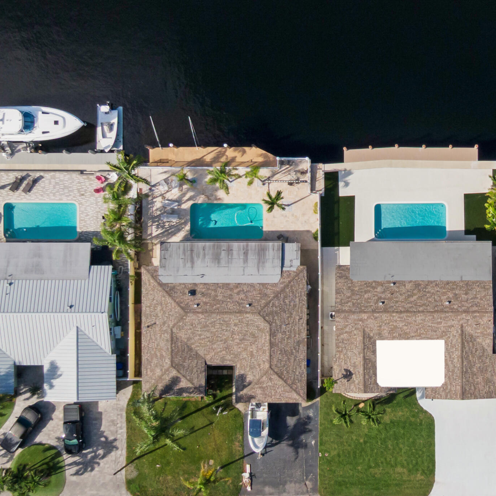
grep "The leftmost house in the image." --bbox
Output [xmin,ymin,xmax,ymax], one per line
[0,243,120,402]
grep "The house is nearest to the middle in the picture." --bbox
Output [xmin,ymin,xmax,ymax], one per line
[141,242,307,404]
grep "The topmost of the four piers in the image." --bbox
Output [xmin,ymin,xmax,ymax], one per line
[97,108,123,150]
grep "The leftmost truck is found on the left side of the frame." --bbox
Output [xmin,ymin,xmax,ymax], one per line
[0,402,42,455]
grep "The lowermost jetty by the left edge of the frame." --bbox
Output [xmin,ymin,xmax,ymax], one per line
[0,149,123,164]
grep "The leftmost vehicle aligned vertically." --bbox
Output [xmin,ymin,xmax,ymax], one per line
[61,403,85,455]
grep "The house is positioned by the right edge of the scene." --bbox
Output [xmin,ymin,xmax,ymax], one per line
[332,241,496,400]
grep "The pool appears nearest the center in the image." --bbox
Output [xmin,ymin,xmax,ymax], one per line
[189,203,264,240]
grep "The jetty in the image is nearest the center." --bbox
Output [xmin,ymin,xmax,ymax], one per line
[145,144,276,166]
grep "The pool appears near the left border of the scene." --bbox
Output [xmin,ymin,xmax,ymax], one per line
[0,199,80,242]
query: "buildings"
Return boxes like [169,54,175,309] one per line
[0,243,120,402]
[141,242,307,404]
[332,241,496,400]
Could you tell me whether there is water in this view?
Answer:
Yes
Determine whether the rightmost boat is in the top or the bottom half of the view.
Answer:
bottom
